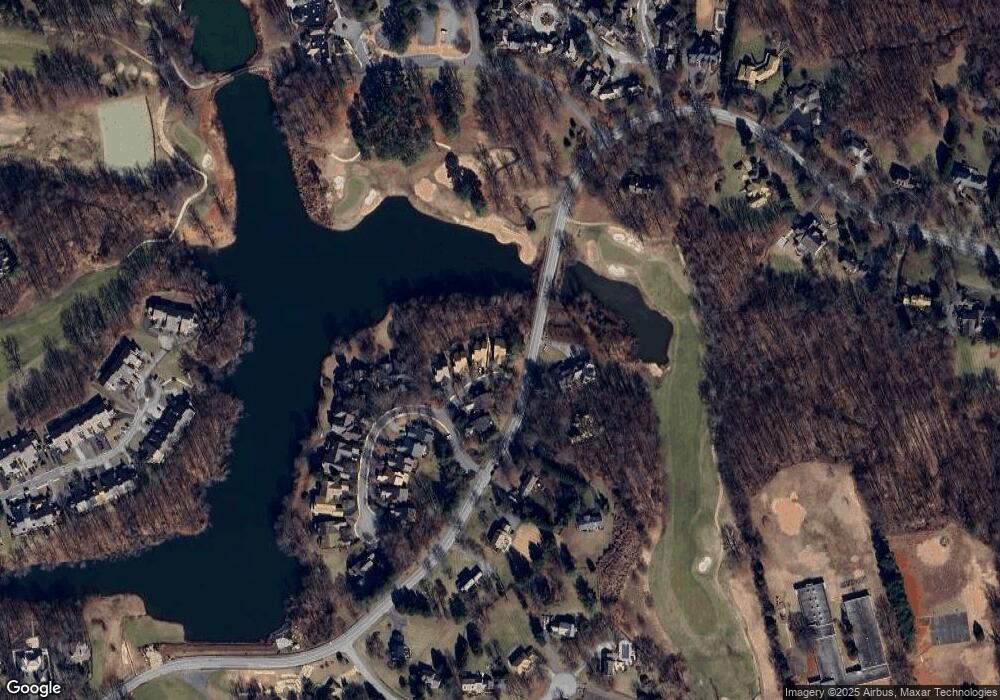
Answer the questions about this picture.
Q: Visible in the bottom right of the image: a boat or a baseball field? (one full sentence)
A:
It is a baseball field that can be seen in the bottom right of the image.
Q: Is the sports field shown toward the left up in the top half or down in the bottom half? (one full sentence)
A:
It is in the top half that the sports field shown toward the left appears.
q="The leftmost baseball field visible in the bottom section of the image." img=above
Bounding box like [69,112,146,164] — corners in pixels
[772,495,804,527]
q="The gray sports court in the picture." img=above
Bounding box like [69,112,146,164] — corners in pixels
[931,612,970,645]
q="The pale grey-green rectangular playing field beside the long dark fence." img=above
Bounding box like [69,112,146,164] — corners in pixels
[97,97,155,168]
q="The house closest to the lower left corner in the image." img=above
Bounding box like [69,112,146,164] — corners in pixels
[20,652,47,681]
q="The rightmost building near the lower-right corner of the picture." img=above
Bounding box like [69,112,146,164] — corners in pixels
[844,595,891,689]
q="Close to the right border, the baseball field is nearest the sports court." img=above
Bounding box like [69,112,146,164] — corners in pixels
[916,535,951,564]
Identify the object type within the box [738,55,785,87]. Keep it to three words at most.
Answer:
house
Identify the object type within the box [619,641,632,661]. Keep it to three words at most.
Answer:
swimming pool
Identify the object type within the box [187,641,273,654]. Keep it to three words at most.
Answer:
dam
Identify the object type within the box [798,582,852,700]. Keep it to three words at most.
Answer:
building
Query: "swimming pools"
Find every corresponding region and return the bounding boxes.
[715,11,726,30]
[619,641,632,661]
